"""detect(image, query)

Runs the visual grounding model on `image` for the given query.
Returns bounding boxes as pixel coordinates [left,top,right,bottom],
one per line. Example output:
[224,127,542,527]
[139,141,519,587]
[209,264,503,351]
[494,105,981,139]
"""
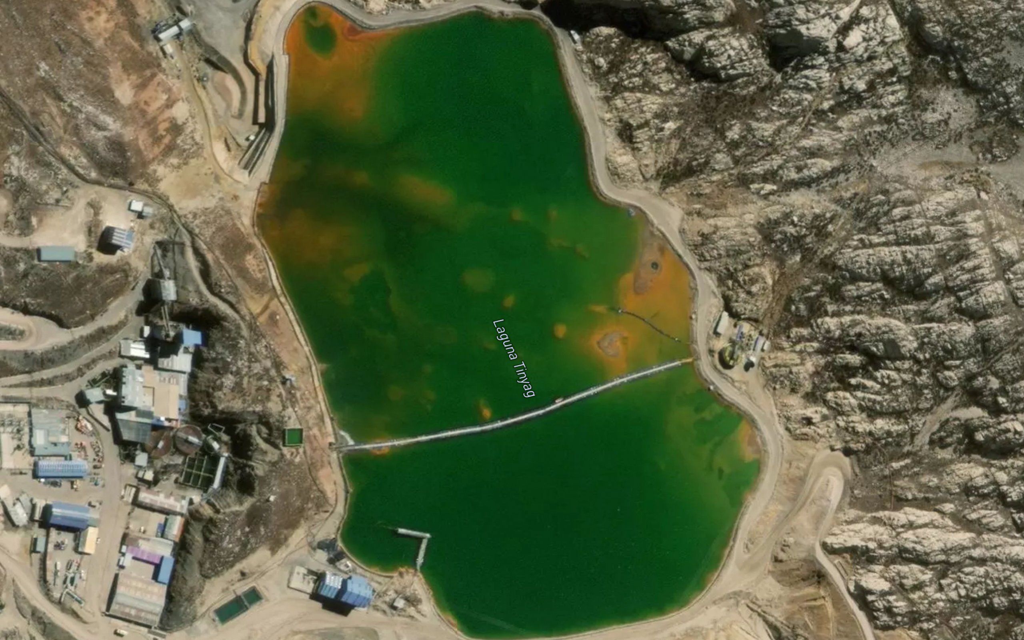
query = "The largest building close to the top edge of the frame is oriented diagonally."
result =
[159,19,193,44]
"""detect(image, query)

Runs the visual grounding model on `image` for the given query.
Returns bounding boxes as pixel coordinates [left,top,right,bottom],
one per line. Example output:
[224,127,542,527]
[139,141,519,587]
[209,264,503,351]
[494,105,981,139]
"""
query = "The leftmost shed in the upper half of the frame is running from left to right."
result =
[41,246,75,261]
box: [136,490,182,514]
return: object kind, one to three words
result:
building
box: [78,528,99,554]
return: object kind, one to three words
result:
house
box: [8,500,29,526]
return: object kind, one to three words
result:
shed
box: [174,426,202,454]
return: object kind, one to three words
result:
storage tank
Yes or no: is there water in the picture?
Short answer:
Yes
